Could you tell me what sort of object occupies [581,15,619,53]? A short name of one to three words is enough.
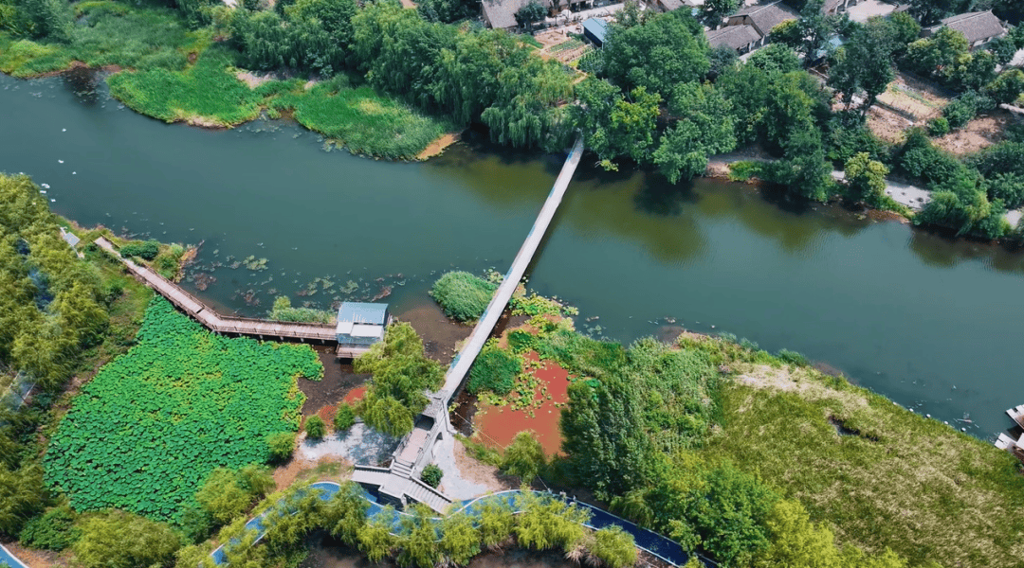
shed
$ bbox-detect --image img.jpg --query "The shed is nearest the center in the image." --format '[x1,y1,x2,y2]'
[334,297,397,362]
